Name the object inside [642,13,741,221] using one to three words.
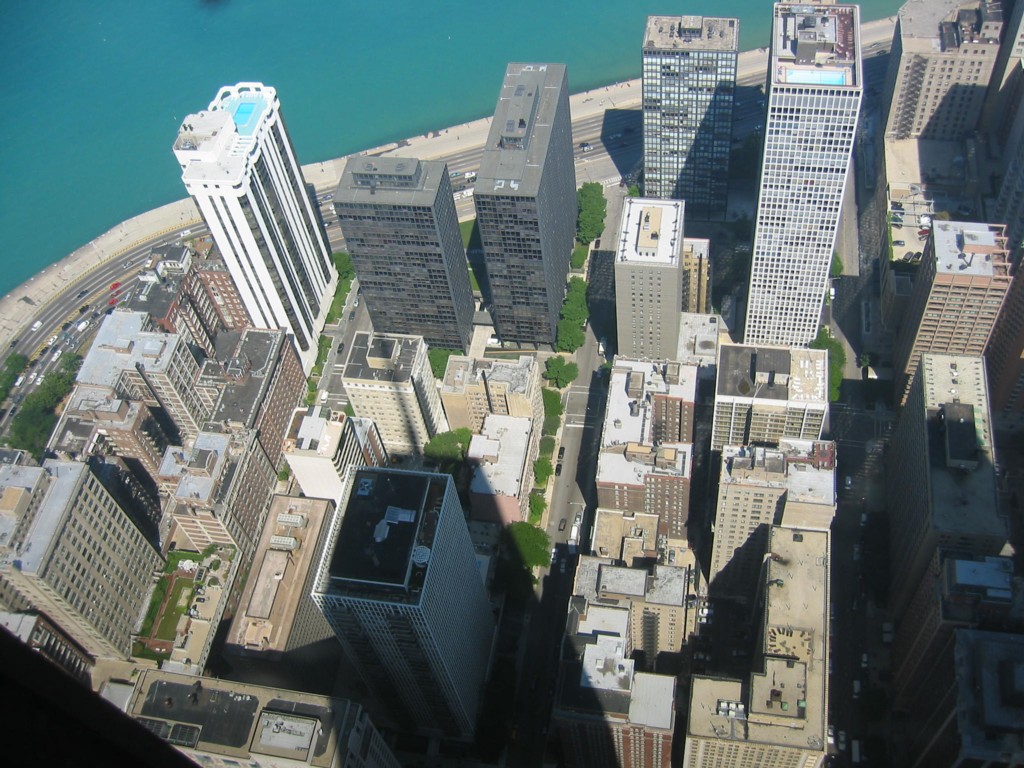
building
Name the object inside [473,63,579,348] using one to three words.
building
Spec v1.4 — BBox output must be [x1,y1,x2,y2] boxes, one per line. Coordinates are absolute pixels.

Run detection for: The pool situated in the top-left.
[232,101,259,125]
